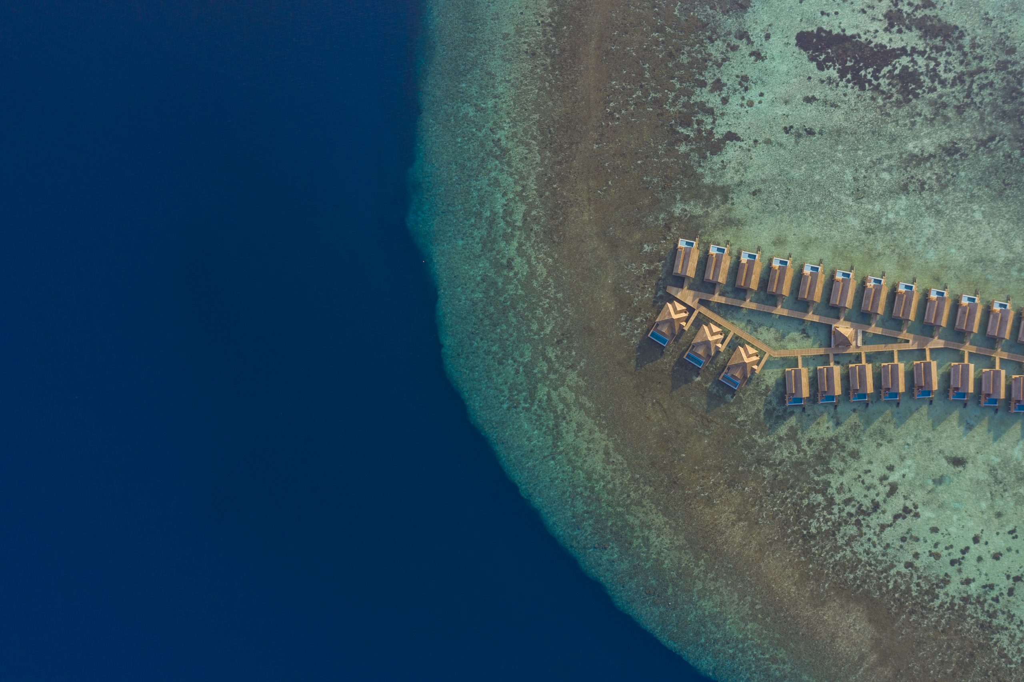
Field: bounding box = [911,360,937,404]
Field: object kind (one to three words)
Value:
house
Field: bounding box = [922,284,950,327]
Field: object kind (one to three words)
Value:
house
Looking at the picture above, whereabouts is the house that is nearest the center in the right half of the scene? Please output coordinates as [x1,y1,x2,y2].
[647,300,690,353]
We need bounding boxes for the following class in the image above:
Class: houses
[946,362,974,407]
[859,272,887,315]
[828,266,856,309]
[735,248,762,291]
[784,367,809,411]
[683,322,726,374]
[879,362,905,406]
[647,300,690,353]
[704,242,731,285]
[1016,305,1024,345]
[767,254,794,297]
[911,360,937,404]
[797,259,825,303]
[673,236,700,278]
[718,344,761,395]
[816,365,841,409]
[847,363,873,407]
[1009,375,1024,413]
[978,368,1005,413]
[922,284,950,327]
[985,296,1013,340]
[954,290,982,334]
[890,278,919,322]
